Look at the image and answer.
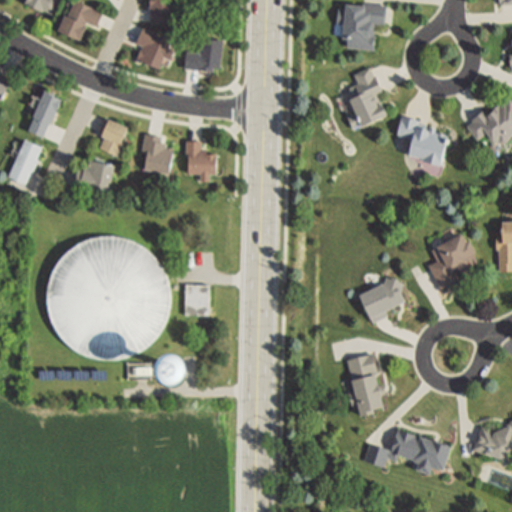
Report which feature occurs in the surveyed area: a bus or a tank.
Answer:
tank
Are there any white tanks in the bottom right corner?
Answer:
No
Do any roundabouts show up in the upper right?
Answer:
Yes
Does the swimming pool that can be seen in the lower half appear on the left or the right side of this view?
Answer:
right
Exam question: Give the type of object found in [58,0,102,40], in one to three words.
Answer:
house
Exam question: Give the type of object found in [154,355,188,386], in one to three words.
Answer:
water tower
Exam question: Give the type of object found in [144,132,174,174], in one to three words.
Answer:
house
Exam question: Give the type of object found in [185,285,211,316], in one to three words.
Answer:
building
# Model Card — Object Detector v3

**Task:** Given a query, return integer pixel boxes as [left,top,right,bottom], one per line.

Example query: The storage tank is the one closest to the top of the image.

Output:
[46,236,171,361]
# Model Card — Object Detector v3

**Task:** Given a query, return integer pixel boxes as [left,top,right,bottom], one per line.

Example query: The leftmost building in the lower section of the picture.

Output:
[127,362,154,381]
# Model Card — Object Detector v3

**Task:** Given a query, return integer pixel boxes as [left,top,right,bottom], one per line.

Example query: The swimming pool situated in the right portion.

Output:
[478,462,512,491]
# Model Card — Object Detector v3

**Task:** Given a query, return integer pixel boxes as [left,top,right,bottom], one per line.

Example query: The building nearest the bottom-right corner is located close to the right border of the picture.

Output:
[470,420,512,462]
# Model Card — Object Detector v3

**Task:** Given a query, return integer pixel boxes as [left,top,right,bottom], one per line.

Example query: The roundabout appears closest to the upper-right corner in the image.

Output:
[406,0,482,96]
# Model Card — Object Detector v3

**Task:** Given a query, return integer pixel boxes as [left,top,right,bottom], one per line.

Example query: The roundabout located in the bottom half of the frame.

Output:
[414,312,512,396]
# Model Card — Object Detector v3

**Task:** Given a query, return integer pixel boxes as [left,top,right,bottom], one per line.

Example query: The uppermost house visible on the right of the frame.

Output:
[342,3,385,52]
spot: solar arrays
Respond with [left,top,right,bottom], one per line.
[56,371,72,380]
[92,371,107,380]
[74,371,90,380]
[38,371,54,380]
